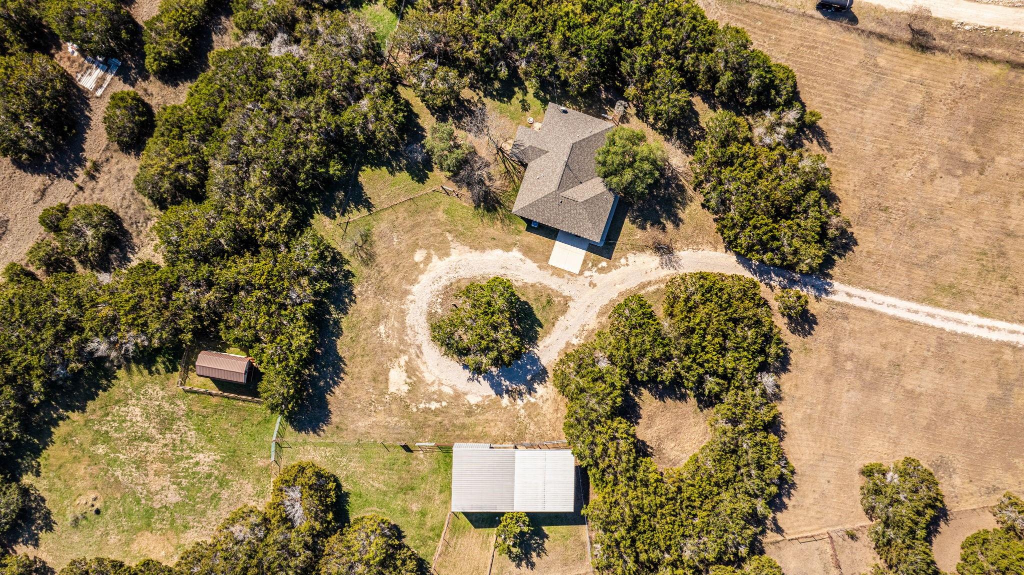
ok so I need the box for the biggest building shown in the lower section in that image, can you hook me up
[451,440,575,512]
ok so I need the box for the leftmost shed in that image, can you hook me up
[196,351,253,385]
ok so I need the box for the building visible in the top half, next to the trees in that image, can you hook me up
[509,102,619,243]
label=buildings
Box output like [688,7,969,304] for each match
[451,440,575,512]
[509,102,619,243]
[196,351,253,385]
